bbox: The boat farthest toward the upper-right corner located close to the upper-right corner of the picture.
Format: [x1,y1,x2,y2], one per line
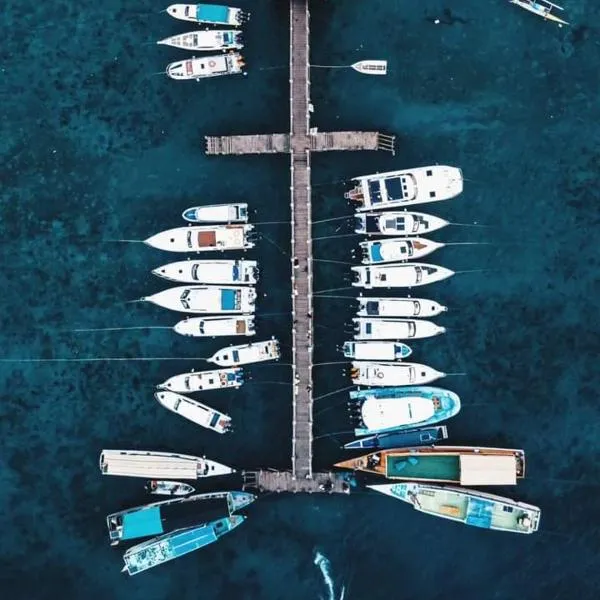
[504,0,571,25]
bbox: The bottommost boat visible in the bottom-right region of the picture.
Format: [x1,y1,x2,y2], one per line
[365,482,541,533]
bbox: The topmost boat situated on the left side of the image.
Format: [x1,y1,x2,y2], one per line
[166,1,252,29]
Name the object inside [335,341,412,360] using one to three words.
boat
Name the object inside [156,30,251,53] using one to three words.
boat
